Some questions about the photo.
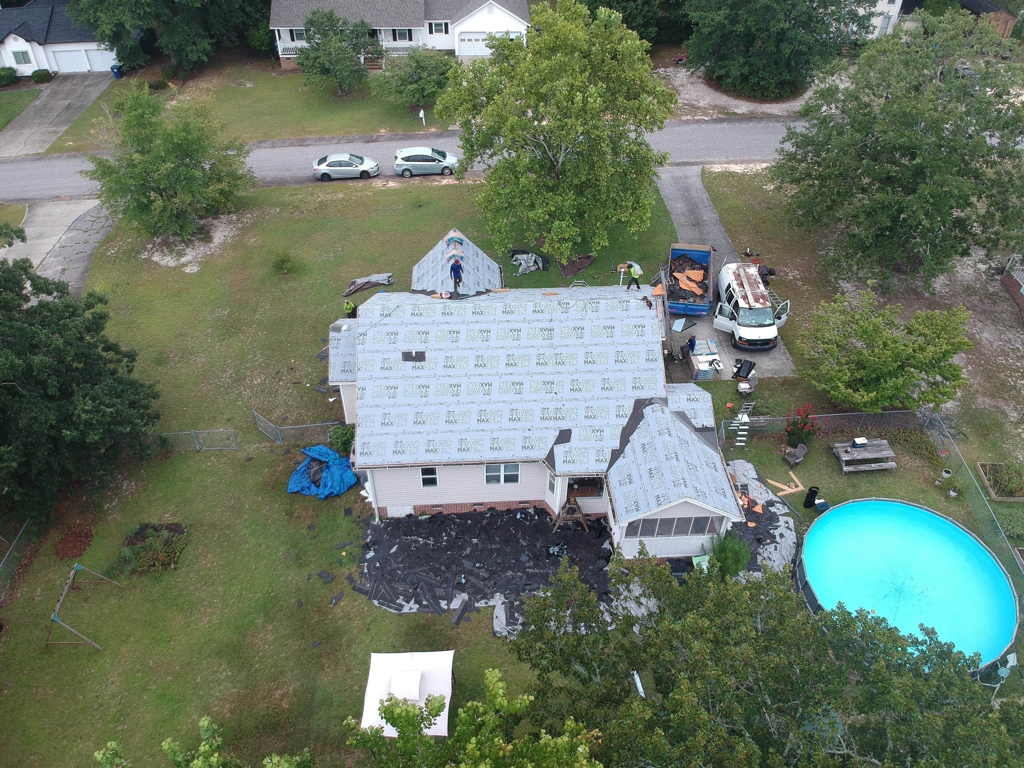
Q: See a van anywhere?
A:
Yes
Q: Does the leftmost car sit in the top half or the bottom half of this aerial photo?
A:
top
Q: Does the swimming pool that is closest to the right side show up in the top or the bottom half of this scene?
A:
bottom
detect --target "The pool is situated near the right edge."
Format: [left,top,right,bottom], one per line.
[783,498,1020,687]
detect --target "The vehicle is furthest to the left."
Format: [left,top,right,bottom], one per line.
[311,154,379,181]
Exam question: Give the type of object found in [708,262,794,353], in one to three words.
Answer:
van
